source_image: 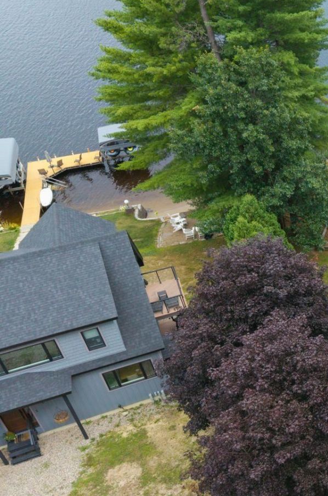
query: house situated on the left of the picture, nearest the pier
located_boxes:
[0,201,204,464]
